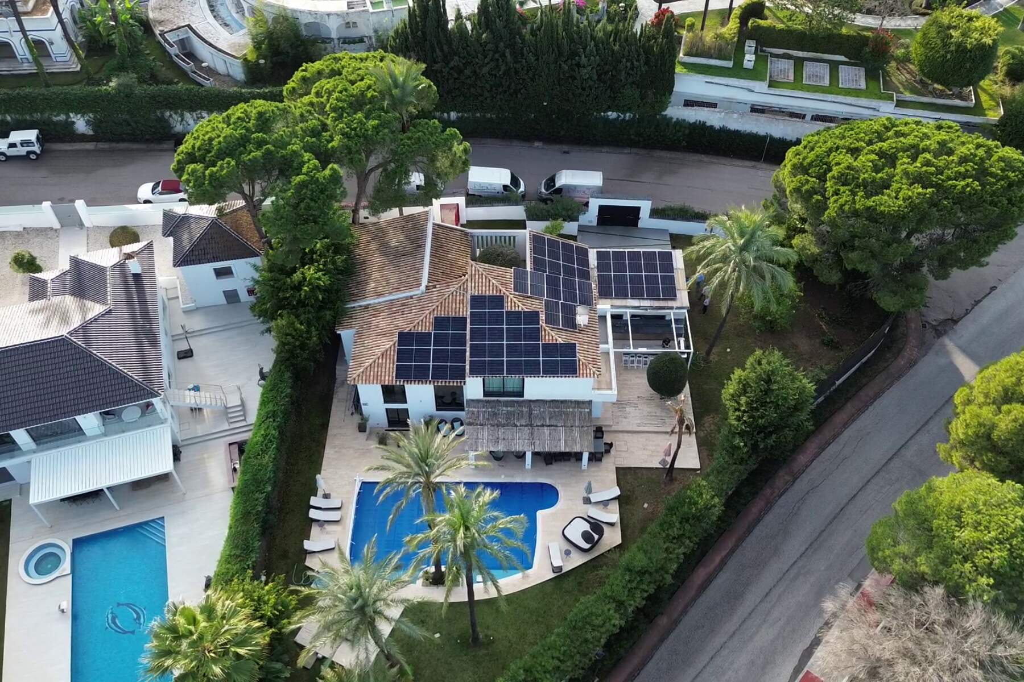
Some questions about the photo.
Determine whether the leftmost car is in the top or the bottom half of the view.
top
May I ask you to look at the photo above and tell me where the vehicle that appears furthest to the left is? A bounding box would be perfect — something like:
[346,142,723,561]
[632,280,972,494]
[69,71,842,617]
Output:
[134,180,188,200]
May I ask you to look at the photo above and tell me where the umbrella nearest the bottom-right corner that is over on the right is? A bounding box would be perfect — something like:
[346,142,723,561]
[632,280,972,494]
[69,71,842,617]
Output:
[657,446,673,468]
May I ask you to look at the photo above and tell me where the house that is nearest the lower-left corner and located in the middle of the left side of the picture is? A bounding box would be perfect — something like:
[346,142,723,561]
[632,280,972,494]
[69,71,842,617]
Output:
[0,238,180,486]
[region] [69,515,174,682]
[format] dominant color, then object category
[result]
blue swimming pool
